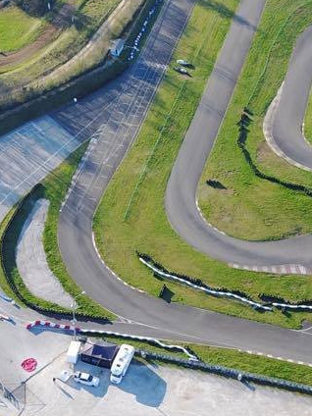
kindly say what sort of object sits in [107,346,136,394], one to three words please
camper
